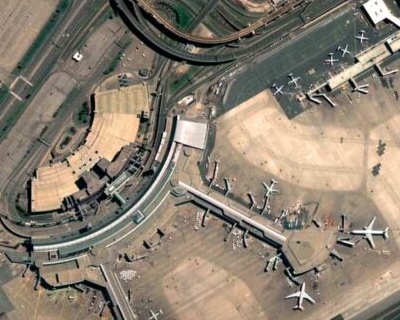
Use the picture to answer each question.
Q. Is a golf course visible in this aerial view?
No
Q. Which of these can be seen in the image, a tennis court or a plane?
plane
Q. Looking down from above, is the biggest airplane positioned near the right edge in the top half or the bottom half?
bottom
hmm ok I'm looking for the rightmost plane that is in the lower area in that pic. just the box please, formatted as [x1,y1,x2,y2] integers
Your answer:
[351,215,388,248]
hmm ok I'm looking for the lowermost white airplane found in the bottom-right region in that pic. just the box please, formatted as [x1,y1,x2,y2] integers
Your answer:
[286,282,314,311]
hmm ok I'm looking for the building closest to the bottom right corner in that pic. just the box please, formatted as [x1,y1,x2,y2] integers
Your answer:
[282,228,329,275]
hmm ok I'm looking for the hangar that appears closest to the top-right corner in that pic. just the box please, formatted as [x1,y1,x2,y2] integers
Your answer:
[366,0,400,28]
